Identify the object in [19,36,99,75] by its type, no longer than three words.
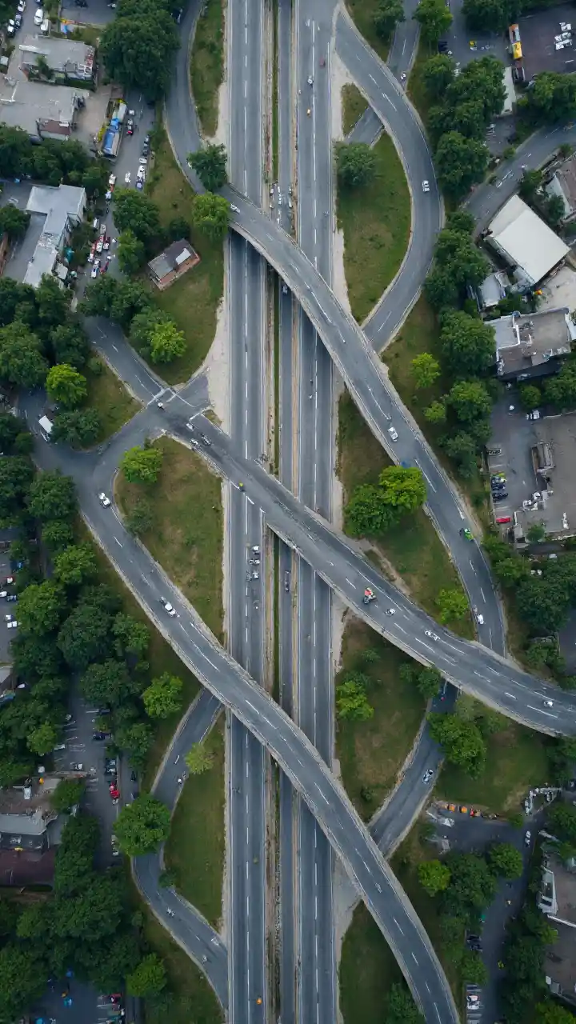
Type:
house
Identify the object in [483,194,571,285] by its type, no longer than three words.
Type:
building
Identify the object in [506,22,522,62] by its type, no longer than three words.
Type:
vehicle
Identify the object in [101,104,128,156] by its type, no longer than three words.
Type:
truck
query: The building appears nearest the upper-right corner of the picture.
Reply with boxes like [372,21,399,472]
[499,67,516,121]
